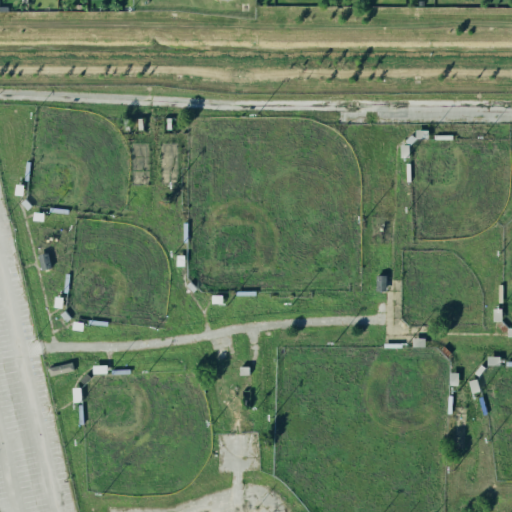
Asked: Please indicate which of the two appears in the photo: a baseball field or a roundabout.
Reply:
baseball field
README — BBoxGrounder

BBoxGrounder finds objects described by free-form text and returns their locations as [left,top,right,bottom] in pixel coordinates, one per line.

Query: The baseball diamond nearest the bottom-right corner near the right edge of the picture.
[482,367,512,481]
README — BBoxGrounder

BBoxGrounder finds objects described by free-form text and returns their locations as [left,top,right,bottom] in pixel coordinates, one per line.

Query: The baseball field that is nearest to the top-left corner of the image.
[28,104,130,213]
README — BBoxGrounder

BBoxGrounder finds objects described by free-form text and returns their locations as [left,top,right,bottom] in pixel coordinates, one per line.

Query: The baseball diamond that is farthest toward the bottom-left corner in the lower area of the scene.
[84,373,212,496]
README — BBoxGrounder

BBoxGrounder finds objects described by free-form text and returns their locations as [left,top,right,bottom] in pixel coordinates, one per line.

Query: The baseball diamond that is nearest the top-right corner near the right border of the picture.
[412,139,511,240]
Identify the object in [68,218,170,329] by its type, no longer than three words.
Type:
baseball field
